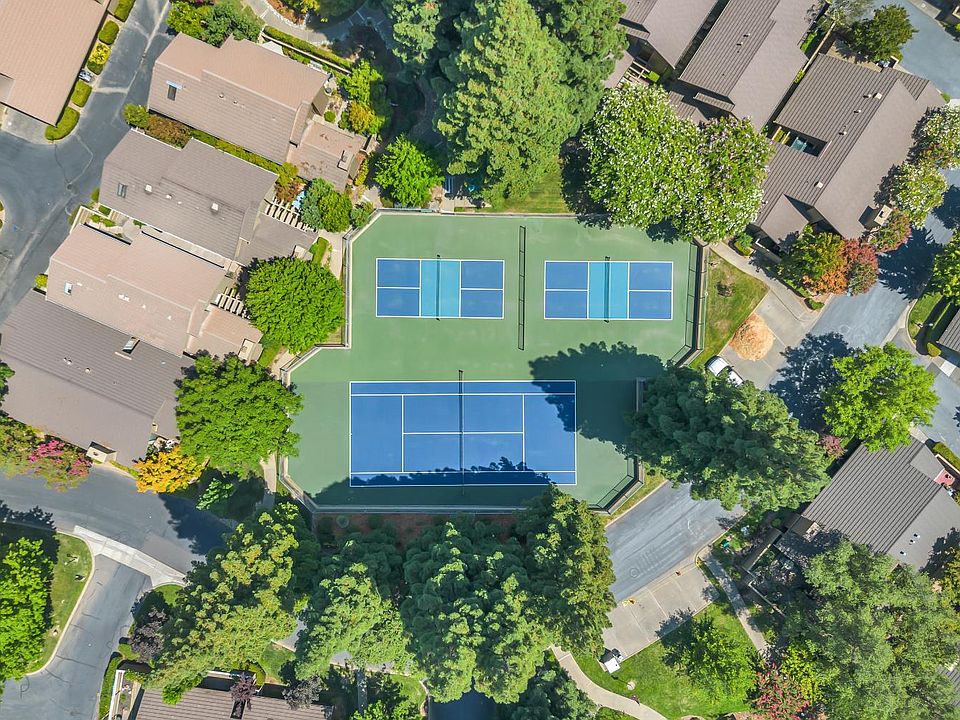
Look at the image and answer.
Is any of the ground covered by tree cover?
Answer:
Yes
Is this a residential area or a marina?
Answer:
residential area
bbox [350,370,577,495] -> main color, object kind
blue tennis court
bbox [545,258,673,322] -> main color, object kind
blue sports court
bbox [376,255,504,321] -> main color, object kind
blue sports court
